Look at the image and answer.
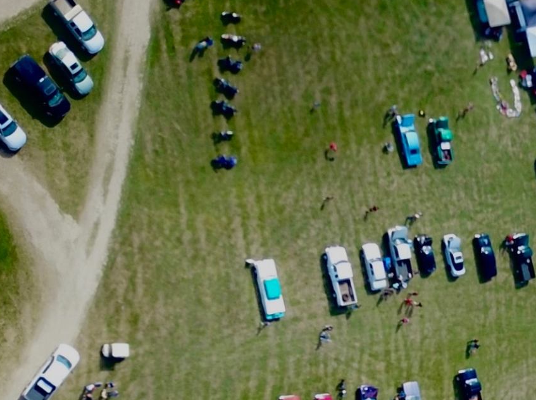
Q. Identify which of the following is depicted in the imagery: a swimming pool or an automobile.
automobile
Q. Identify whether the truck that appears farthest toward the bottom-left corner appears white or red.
white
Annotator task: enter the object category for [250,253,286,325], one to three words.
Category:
car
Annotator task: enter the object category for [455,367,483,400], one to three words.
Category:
truck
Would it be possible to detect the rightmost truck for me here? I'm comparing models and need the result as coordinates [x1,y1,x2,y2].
[511,235,536,287]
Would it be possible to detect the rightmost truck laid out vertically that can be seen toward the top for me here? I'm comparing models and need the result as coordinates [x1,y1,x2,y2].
[429,118,454,166]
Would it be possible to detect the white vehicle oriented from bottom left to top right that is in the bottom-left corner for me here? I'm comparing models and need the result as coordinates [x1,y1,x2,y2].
[19,345,81,400]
